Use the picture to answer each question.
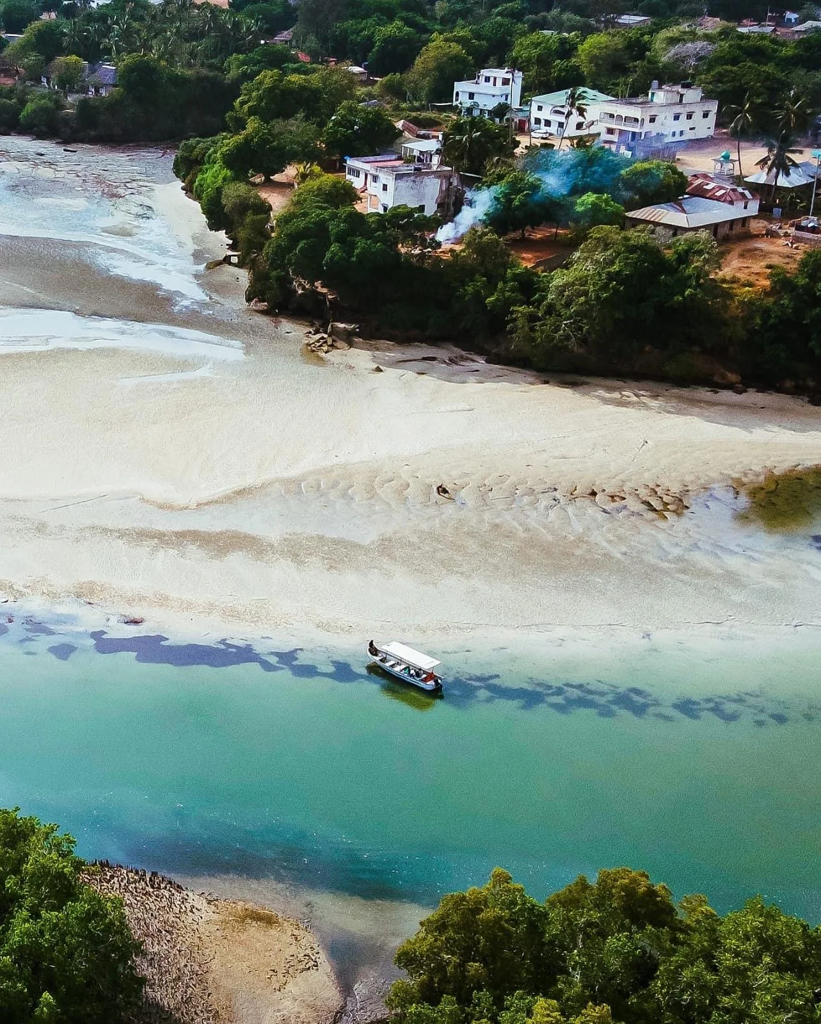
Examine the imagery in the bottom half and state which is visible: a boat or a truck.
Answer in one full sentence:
It is a boat that can be seen in the bottom half.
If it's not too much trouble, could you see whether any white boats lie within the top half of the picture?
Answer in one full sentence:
No, looking within the top half of the picture, there is no white boat.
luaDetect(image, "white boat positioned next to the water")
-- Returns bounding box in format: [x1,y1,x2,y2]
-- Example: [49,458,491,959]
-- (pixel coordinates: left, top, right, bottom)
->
[365,641,440,692]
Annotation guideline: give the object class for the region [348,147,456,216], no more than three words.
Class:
house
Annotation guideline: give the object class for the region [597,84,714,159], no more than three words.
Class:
house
